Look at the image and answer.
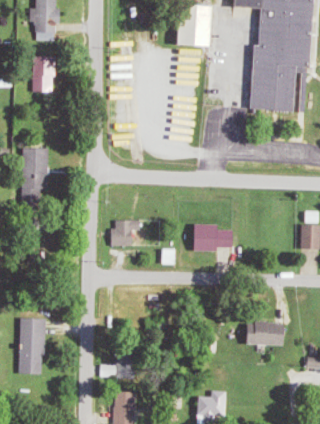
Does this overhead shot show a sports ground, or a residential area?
residential area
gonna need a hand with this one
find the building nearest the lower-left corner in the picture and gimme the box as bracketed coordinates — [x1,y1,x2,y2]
[18,318,44,374]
